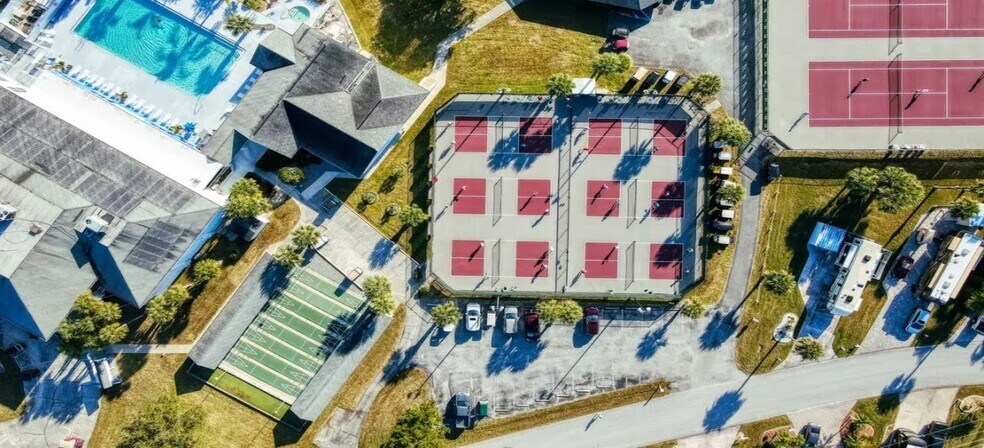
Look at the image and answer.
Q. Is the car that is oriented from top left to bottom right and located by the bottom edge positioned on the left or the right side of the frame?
right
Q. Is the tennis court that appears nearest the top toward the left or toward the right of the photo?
right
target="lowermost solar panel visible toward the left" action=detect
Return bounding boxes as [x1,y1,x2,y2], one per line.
[125,219,188,271]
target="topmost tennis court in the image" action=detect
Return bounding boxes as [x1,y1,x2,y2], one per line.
[809,0,984,45]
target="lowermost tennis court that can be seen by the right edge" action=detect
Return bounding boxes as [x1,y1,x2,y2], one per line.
[809,58,984,135]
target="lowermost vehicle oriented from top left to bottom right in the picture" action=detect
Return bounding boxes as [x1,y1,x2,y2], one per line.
[890,420,919,448]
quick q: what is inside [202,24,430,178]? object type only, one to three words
building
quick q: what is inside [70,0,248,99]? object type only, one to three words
swimming pool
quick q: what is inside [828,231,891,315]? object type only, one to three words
trailer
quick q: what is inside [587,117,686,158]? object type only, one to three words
sports court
